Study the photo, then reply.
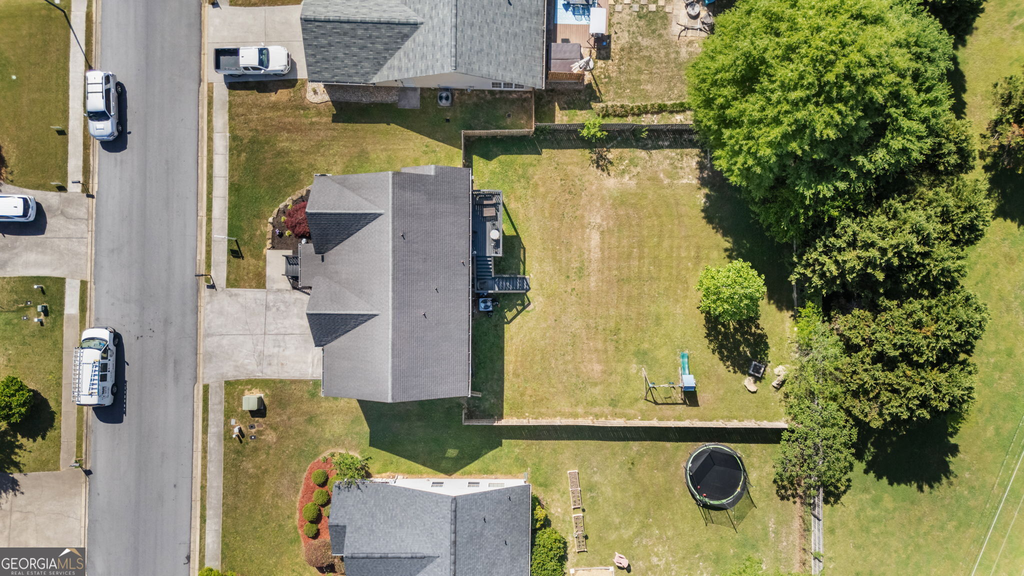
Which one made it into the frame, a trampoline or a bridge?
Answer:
trampoline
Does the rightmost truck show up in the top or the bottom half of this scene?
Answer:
top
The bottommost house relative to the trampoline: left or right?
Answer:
to its left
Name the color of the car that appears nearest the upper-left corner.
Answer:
white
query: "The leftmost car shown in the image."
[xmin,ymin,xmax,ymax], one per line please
[0,194,36,223]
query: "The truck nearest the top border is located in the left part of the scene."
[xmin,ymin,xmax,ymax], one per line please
[214,41,293,77]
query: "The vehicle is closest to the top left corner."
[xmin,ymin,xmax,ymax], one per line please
[82,71,123,144]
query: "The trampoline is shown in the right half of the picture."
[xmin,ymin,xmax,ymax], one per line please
[680,440,755,514]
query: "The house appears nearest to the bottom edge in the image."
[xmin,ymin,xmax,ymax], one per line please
[328,469,533,576]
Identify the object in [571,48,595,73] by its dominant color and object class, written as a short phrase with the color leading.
white umbrella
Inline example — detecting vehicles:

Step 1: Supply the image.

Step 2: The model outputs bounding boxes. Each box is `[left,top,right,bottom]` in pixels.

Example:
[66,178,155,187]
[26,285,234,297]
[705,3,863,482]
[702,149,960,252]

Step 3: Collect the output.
[0,194,36,223]
[74,324,120,406]
[82,71,123,144]
[214,41,293,77]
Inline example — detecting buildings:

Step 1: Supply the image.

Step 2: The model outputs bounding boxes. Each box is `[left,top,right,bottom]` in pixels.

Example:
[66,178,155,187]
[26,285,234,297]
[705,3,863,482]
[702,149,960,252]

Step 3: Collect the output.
[300,0,549,96]
[282,164,474,404]
[328,469,533,576]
